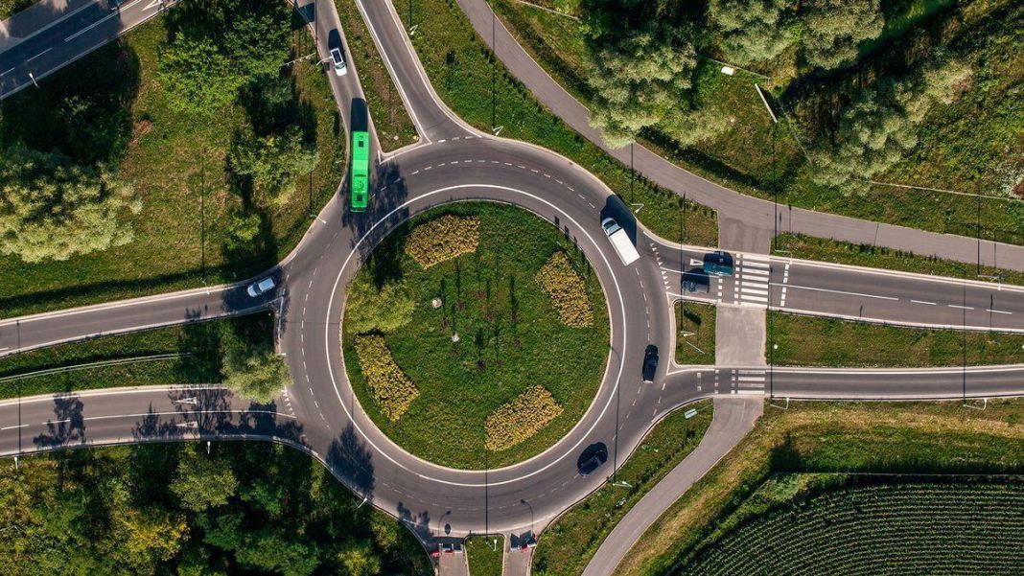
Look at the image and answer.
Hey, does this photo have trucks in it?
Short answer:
Yes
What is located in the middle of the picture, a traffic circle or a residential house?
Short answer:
traffic circle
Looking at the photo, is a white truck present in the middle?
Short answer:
Yes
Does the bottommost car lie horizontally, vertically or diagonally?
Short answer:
diagonally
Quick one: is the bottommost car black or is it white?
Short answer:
black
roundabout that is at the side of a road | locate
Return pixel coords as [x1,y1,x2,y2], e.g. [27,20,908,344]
[282,137,670,532]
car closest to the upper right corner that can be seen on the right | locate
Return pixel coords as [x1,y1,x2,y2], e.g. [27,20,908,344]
[703,260,733,275]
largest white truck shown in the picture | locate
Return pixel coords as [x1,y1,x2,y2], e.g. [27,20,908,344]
[601,216,640,266]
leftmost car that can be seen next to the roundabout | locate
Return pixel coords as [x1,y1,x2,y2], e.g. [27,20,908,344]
[246,275,277,297]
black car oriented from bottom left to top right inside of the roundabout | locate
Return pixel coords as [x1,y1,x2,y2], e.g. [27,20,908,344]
[577,447,606,475]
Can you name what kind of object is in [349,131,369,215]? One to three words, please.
bus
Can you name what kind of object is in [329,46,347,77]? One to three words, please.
car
